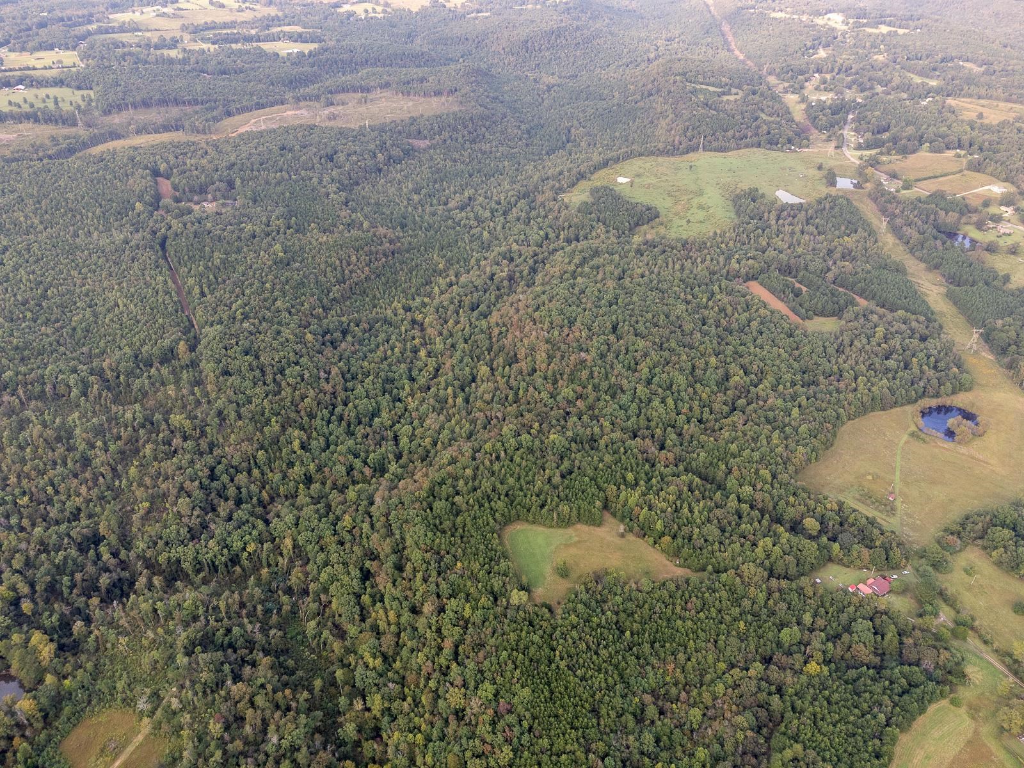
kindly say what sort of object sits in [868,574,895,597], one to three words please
house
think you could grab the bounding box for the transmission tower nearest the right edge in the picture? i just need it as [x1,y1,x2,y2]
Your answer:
[966,324,989,354]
